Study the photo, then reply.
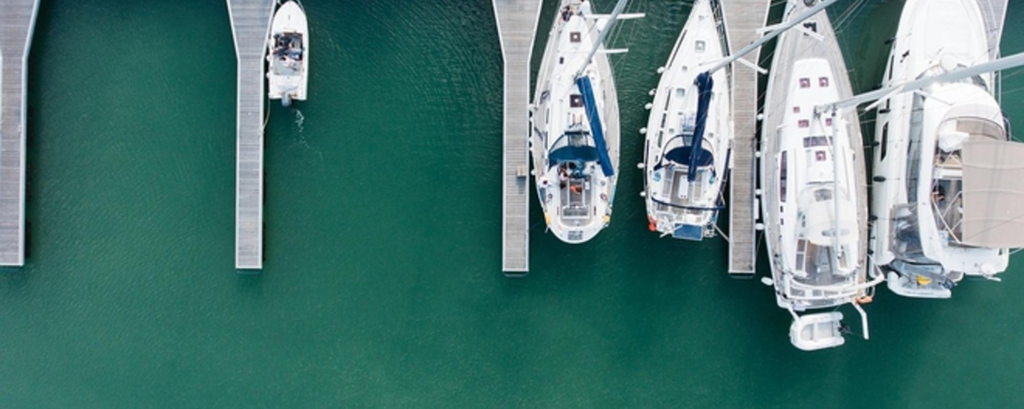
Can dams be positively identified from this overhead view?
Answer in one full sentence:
No, I find no dam anywhere in the image.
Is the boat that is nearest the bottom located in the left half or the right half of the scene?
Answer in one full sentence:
You can find the boat that is nearest the bottom on the right side of the picture.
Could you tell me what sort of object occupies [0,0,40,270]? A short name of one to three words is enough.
pier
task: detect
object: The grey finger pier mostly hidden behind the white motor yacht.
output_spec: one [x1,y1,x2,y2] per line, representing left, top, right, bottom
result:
[981,0,1011,109]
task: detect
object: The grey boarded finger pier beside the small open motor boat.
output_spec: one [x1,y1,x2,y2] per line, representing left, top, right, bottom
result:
[227,0,277,273]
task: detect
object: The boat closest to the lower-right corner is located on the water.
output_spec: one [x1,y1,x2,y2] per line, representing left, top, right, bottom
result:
[886,263,957,297]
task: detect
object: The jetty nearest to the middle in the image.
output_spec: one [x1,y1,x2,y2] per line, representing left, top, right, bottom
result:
[493,0,542,276]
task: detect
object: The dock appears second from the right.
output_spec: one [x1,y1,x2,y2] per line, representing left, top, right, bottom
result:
[719,0,771,277]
